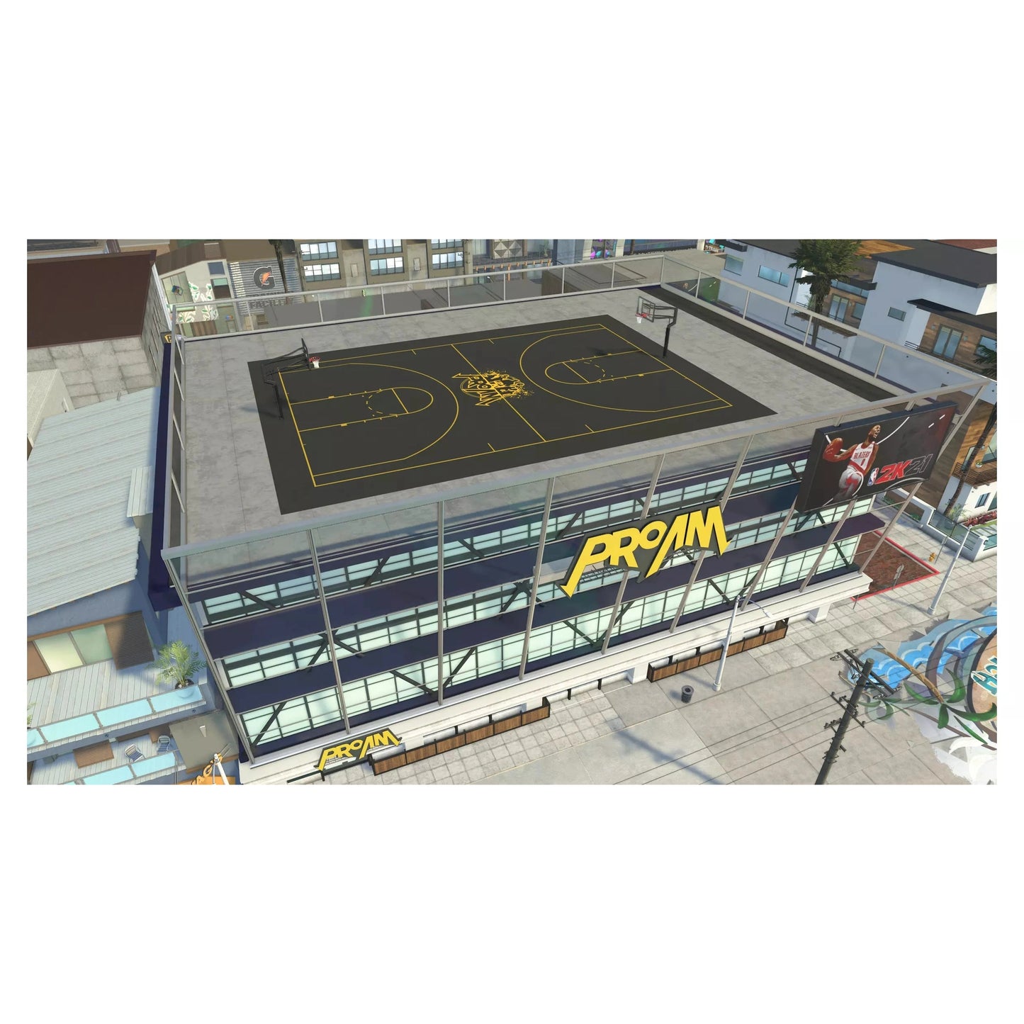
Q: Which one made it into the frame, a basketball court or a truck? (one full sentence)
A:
The one in the frame is a basketball court.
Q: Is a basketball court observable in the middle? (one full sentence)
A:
Yes, the scene does show a basketball court in the middle.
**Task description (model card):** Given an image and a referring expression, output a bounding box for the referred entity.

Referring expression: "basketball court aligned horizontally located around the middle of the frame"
[248,315,778,515]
